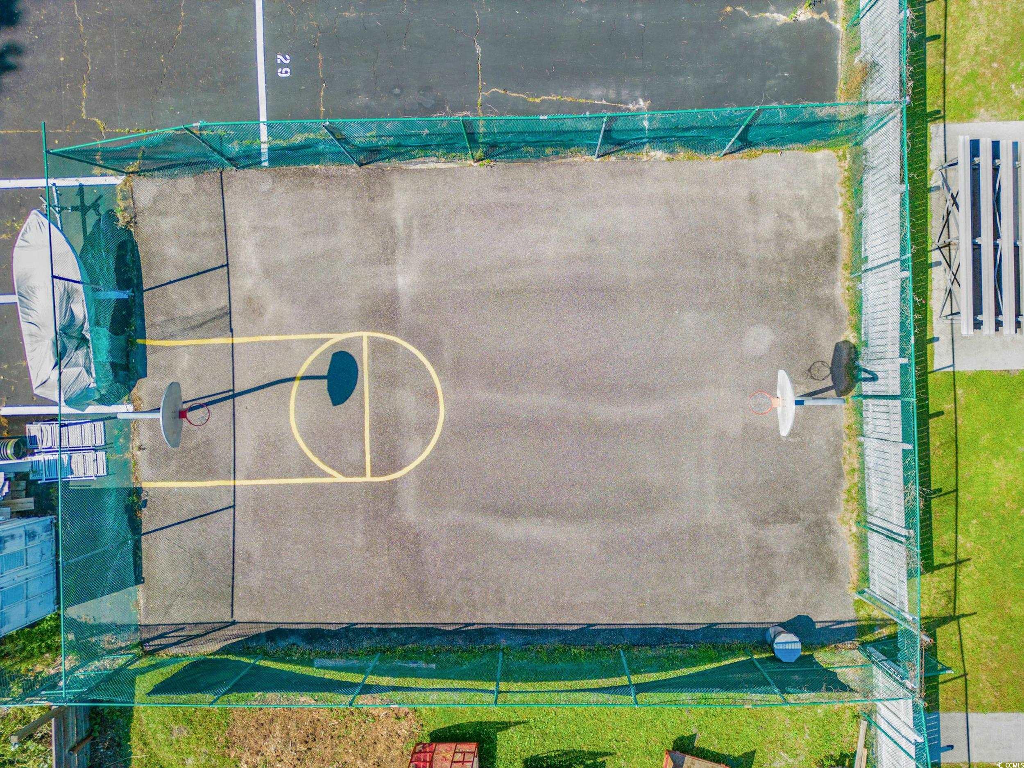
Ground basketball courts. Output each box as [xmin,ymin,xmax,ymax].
[133,151,857,655]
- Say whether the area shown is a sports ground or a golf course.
sports ground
